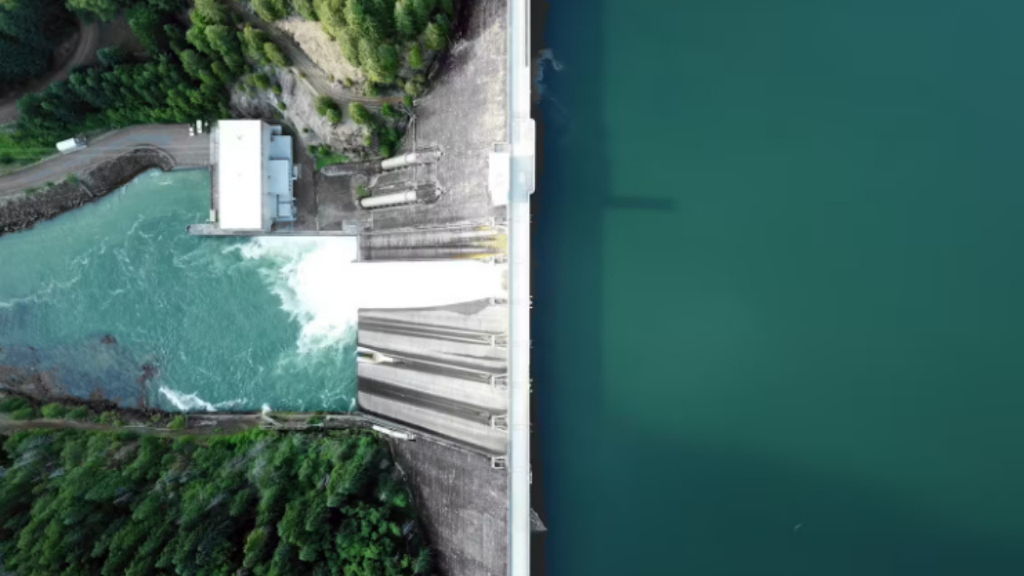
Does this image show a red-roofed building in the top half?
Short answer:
No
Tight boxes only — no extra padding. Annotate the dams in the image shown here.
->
[355,0,549,576]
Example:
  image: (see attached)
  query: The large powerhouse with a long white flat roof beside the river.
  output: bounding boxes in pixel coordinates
[209,120,300,234]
